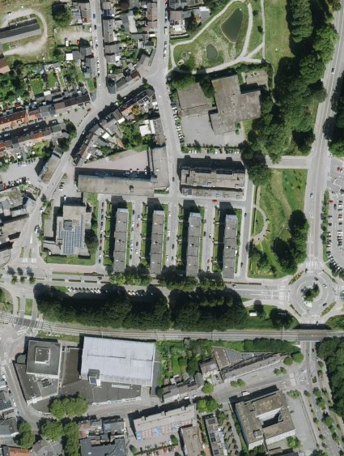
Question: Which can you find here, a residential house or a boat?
residential house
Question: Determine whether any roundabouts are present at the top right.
No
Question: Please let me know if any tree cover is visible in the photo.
Yes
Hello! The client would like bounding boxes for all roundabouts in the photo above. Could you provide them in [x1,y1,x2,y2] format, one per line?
[290,273,331,313]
